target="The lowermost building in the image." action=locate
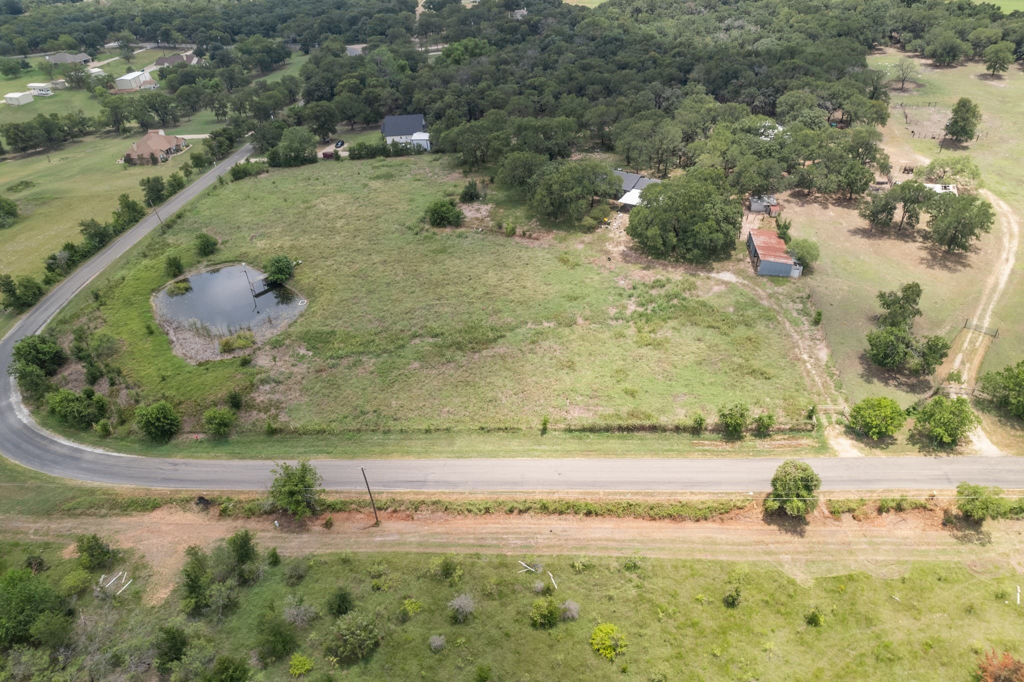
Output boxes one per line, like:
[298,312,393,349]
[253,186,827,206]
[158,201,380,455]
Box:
[746,229,806,276]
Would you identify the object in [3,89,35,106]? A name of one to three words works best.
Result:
barn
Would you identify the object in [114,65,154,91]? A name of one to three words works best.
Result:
building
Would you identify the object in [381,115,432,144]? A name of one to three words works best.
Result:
house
